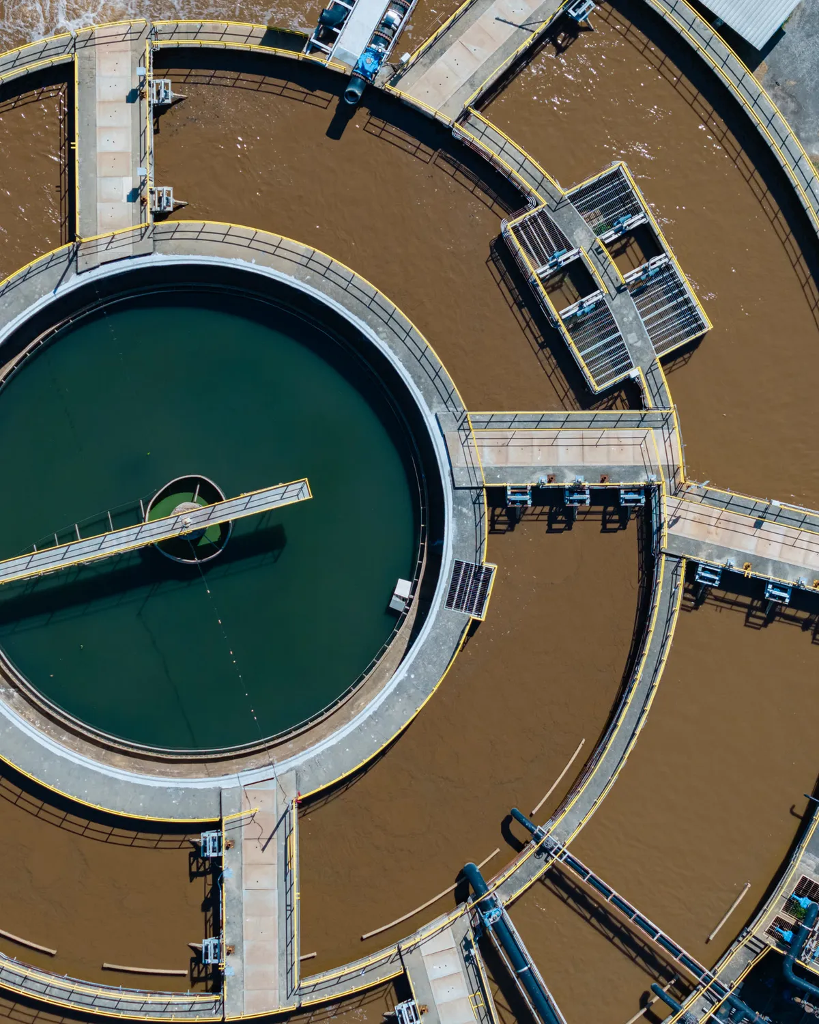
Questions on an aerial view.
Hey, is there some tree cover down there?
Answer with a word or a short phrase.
No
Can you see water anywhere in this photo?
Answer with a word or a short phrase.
Yes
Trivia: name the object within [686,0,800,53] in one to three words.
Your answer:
shed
